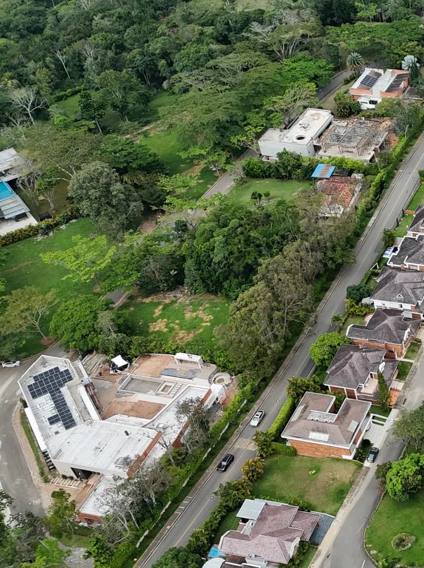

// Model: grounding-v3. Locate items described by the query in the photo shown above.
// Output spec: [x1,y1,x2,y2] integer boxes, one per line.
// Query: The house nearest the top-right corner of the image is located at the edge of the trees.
[349,67,411,112]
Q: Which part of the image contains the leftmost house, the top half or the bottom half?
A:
bottom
